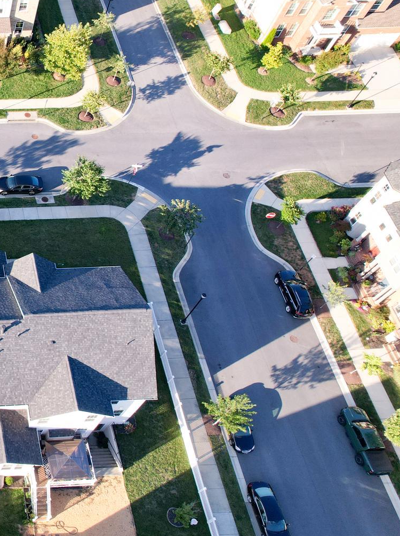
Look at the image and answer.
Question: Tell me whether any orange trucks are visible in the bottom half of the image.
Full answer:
No, no orange truck can be made out in the bottom half of the image.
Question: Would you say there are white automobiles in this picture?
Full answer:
No, the scene contains no white automobile.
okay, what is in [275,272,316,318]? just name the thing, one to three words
car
